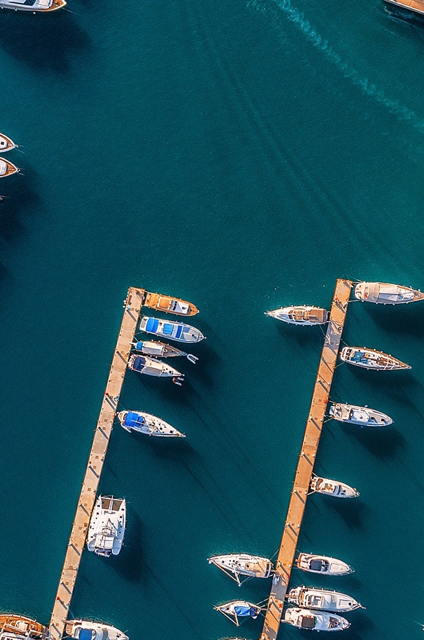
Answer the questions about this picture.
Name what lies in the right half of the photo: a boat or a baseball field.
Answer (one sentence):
Visible in the right half of the photo is a boat.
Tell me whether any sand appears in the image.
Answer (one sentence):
No, no sand is visible.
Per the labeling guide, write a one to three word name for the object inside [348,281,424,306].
boat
